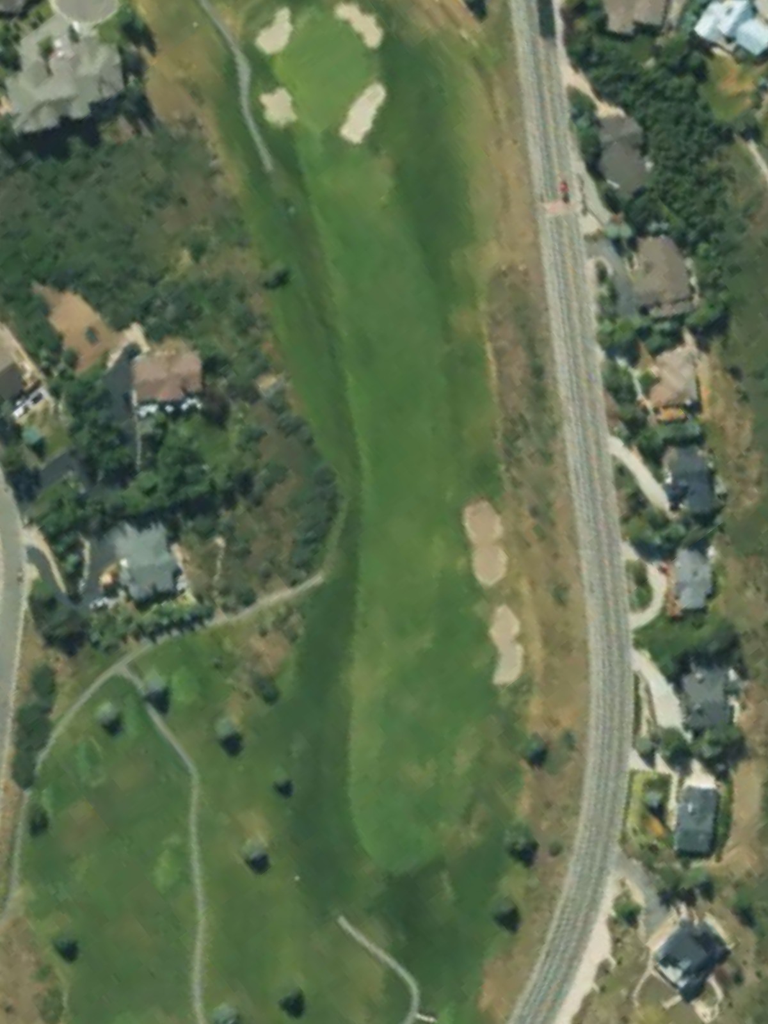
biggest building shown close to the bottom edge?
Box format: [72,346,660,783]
[656,914,738,1004]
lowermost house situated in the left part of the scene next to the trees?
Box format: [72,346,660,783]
[104,520,180,601]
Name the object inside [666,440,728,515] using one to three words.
house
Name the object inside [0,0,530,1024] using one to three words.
golf course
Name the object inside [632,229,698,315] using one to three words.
house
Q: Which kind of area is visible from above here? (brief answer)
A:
golf course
